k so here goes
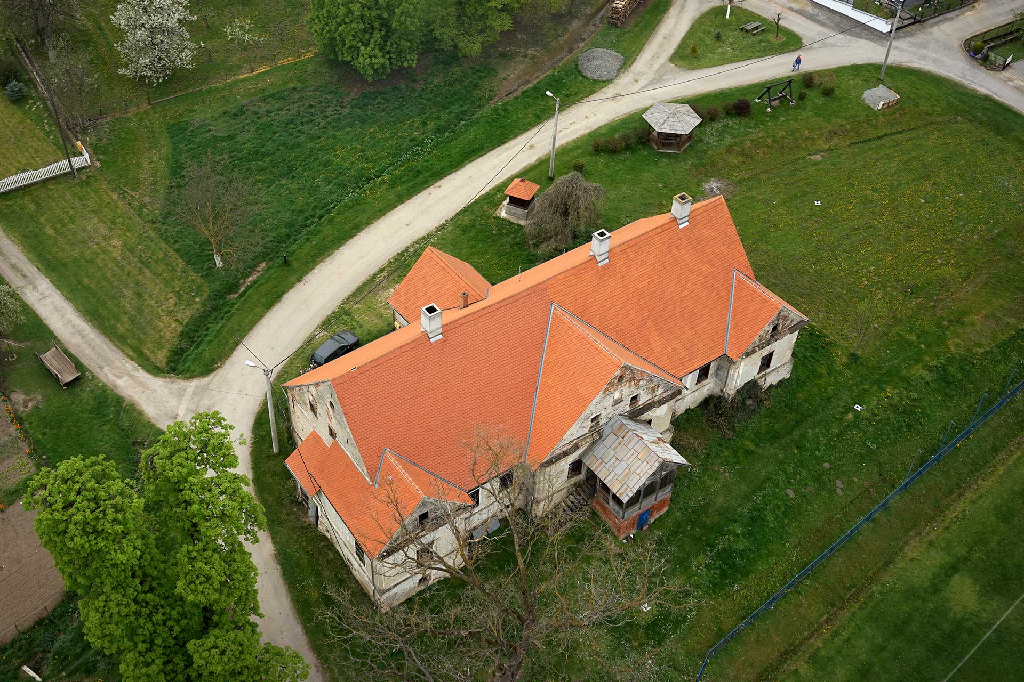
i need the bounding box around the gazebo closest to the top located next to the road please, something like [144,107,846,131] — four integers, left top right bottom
[643,103,701,152]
